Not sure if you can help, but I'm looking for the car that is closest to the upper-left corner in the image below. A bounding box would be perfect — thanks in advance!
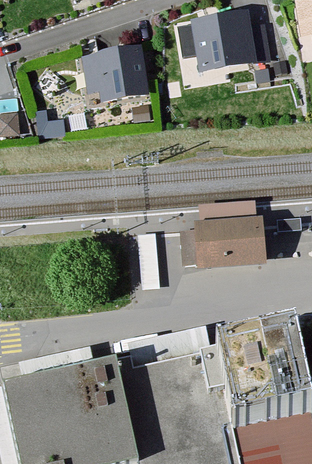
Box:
[0,42,20,57]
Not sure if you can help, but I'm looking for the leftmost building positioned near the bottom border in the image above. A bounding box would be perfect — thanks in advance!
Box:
[0,346,138,464]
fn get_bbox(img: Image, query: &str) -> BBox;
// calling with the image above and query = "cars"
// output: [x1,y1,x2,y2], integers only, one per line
[0,42,20,57]
[136,18,150,43]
